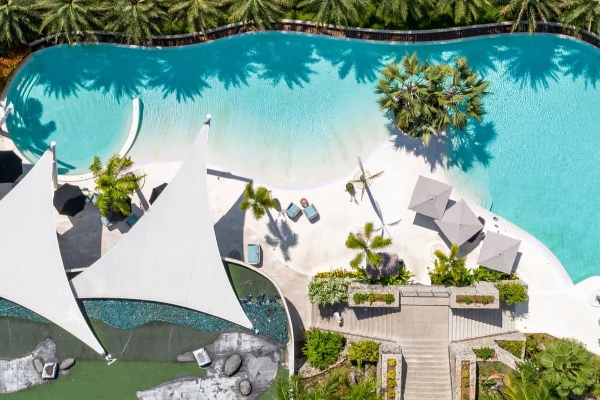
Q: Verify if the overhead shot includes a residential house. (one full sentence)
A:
No, the scene contains no residential house.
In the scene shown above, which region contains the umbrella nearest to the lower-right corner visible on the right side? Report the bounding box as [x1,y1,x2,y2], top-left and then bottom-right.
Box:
[477,230,521,274]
